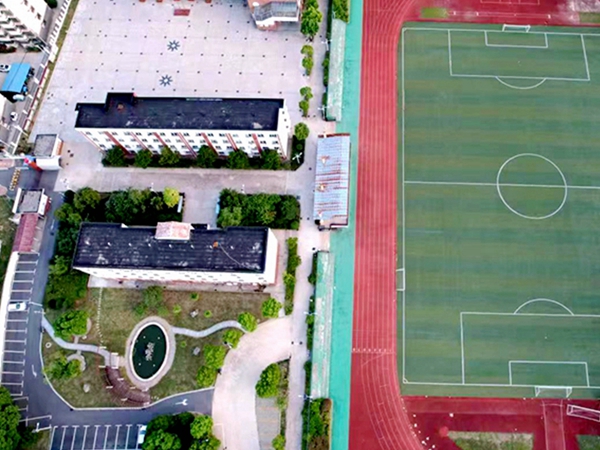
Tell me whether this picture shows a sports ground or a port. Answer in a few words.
sports ground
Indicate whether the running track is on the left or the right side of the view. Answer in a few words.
right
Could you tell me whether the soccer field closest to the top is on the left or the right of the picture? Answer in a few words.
right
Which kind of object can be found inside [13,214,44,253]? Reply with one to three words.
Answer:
shed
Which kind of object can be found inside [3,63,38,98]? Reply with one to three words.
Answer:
shed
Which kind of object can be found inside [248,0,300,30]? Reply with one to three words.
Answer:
building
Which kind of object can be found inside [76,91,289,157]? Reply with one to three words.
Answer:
building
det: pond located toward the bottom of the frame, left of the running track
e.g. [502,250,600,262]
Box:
[125,316,175,391]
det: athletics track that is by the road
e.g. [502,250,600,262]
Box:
[350,0,600,450]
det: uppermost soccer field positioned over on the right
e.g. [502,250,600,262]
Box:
[396,20,600,408]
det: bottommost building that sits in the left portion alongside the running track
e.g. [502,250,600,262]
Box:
[72,220,278,282]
